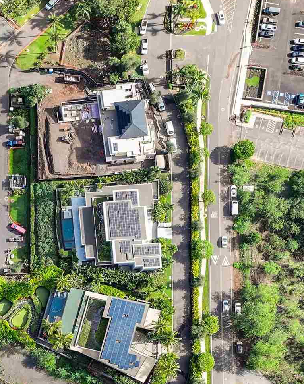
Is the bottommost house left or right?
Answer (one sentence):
It is on the left.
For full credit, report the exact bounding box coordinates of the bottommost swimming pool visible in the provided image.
[49,292,68,322]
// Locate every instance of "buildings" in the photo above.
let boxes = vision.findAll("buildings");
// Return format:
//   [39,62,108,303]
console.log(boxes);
[72,180,162,270]
[38,289,161,384]
[98,81,156,163]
